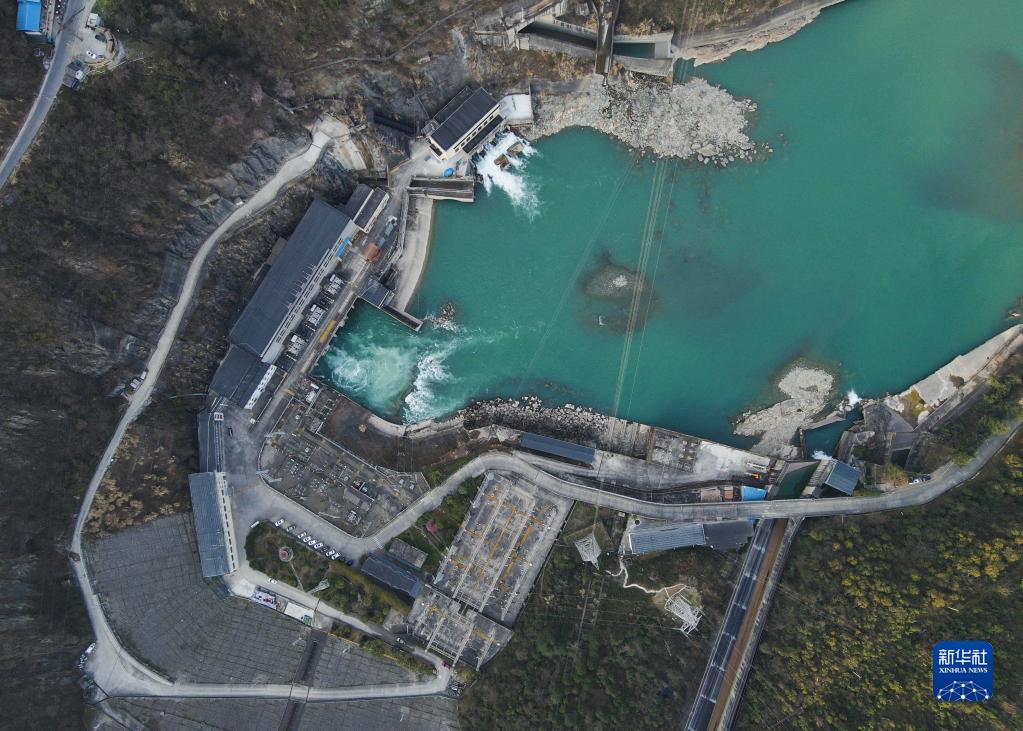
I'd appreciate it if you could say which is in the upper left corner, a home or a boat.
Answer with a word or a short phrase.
home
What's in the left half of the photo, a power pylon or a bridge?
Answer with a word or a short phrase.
power pylon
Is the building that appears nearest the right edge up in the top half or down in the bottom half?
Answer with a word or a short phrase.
bottom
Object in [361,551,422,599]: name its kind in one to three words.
building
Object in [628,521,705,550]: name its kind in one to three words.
building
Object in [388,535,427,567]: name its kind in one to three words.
house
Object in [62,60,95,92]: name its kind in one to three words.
house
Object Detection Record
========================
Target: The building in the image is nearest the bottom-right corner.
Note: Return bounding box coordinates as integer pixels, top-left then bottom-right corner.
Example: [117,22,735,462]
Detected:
[819,457,860,494]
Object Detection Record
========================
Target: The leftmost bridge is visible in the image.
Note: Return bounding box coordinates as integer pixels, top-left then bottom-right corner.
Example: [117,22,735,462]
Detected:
[592,0,613,86]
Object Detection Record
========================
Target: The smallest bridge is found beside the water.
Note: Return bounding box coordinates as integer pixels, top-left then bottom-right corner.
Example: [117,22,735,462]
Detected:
[762,499,808,517]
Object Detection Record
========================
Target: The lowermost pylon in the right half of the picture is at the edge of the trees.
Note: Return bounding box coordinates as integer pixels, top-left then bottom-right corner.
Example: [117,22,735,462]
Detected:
[662,591,701,638]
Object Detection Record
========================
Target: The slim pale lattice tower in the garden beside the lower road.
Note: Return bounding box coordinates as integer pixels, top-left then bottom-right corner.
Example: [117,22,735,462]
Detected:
[309,576,333,599]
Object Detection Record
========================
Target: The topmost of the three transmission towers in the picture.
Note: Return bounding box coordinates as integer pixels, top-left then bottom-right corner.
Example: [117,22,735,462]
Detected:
[572,532,603,572]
